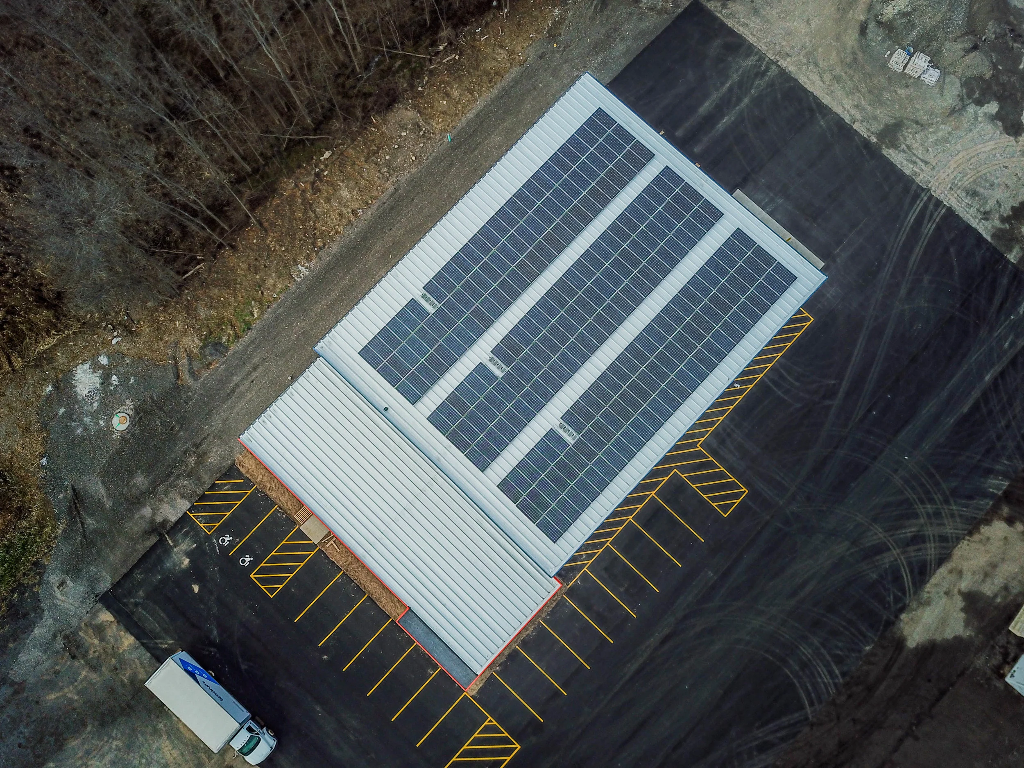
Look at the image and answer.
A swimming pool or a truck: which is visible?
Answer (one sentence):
This aerial view contains a truck.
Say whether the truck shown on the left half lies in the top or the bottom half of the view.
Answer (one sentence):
Seen from above, the truck shown on the left half lies in the bottom half of the view.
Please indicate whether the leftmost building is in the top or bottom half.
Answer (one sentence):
The bottom half of the photo is where the leftmost building is.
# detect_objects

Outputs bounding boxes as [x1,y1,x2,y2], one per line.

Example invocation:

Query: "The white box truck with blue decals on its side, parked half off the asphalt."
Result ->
[146,646,278,764]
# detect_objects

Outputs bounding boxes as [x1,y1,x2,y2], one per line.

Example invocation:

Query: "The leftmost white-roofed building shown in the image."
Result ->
[237,355,562,692]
